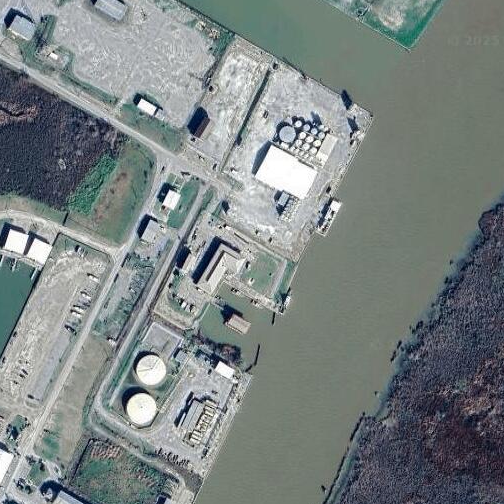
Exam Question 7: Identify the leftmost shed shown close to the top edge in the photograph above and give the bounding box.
[8,15,35,39]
